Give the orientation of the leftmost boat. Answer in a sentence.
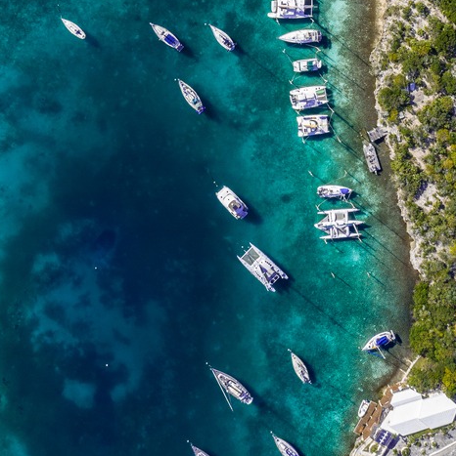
I'd say the leftmost boat is aligned at an angle in the picture.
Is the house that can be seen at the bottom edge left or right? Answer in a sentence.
The house that can be seen at the bottom edge sits on the right side.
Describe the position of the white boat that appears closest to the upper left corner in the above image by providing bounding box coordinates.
[62,19,87,40]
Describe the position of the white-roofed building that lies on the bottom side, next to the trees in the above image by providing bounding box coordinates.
[381,388,456,436]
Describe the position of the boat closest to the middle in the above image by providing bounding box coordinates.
[214,183,250,222]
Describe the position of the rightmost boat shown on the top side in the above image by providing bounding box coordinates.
[363,142,382,174]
